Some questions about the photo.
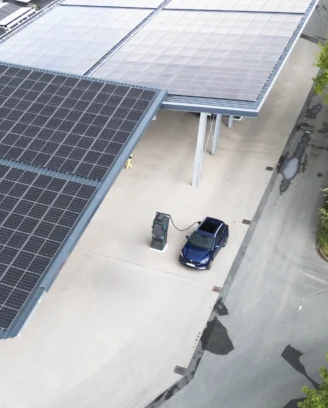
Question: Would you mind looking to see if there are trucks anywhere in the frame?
No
